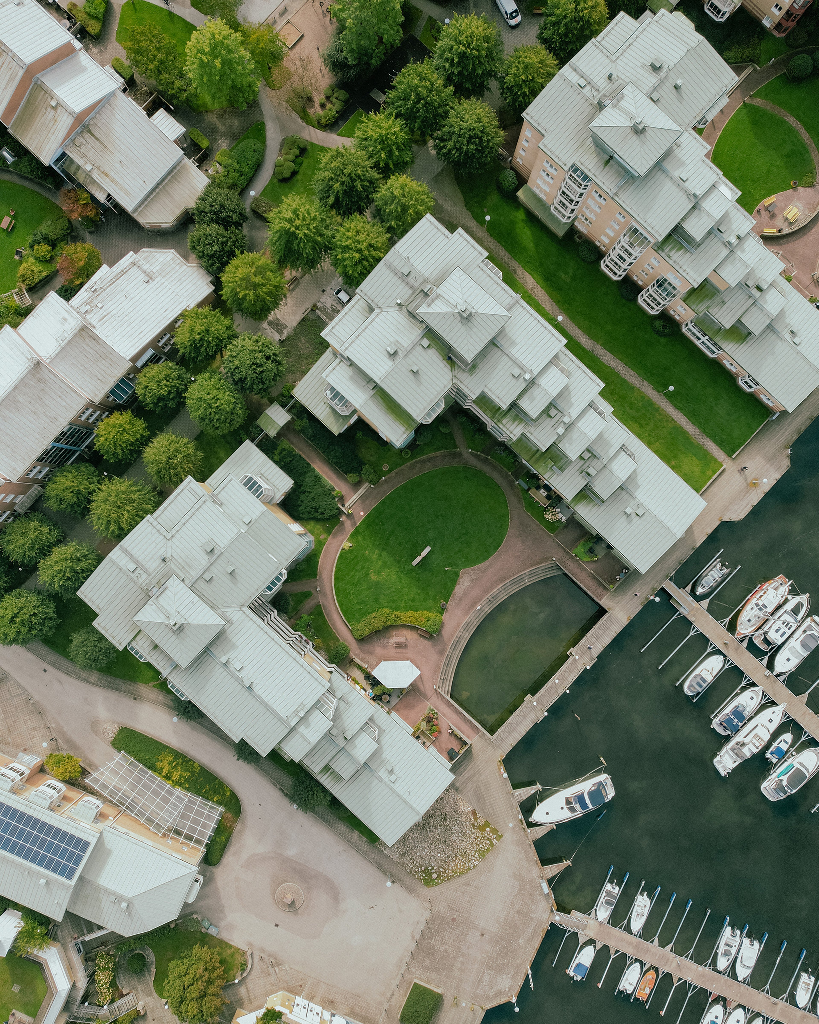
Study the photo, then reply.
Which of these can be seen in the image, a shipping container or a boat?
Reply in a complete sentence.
It is a boat that can be seen here.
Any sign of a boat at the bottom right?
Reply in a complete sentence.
Yes, a boat can be seen at the bottom right.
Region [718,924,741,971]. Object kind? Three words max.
boat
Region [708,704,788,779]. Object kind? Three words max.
boat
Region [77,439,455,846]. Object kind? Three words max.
building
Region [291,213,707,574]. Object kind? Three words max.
building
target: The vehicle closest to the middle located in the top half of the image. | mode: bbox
[333,287,353,308]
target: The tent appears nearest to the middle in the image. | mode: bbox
[371,658,421,688]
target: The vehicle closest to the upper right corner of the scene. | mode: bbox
[495,0,520,28]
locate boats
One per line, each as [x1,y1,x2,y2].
[722,1007,745,1024]
[599,881,621,922]
[631,891,652,935]
[735,935,761,981]
[796,969,817,1009]
[530,772,616,821]
[569,946,596,983]
[749,595,811,652]
[764,734,794,764]
[708,704,788,779]
[751,1017,765,1024]
[635,969,657,1003]
[735,575,792,636]
[697,1003,725,1024]
[696,559,732,596]
[773,608,819,676]
[709,687,764,740]
[617,962,642,995]
[756,745,819,804]
[718,924,741,971]
[680,656,725,701]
